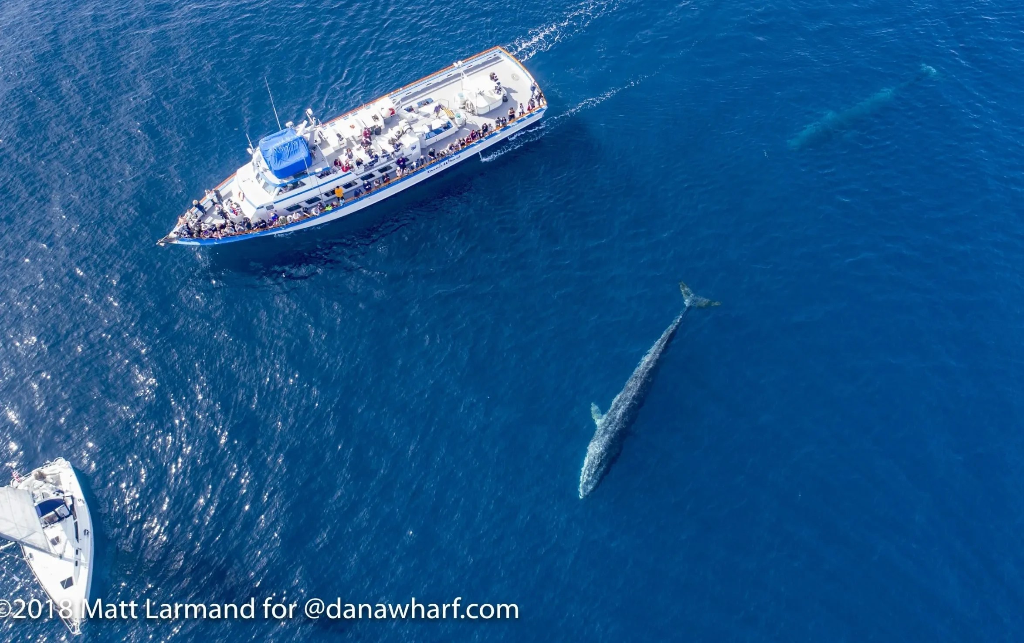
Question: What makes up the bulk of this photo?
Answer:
water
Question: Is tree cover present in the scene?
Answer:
No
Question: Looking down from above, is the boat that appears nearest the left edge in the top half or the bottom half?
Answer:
bottom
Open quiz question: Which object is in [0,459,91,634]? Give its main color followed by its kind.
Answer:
white boat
